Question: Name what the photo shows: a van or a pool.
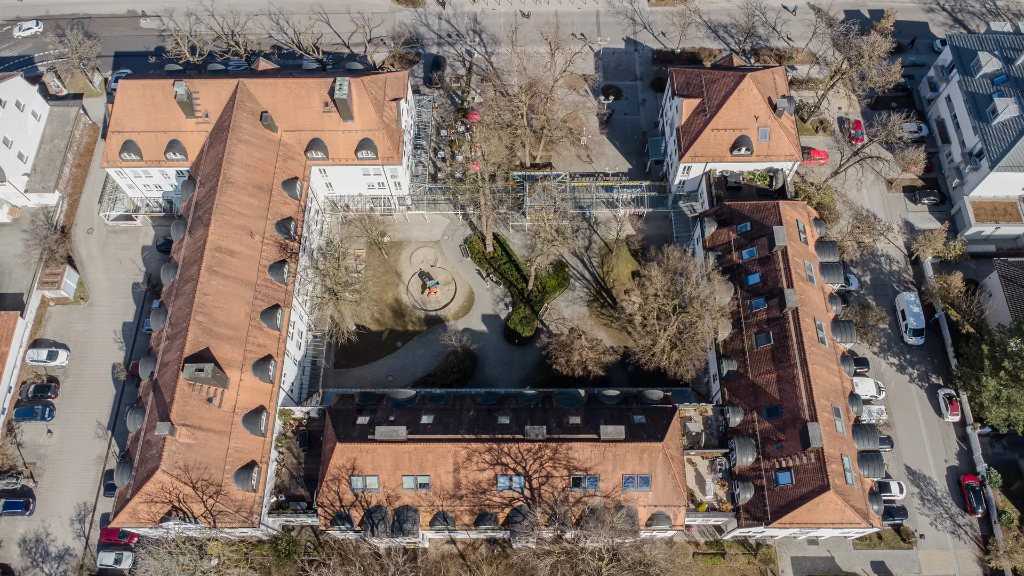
van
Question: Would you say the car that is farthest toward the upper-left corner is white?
Yes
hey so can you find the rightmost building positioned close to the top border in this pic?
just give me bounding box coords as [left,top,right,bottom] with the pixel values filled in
[911,15,1024,215]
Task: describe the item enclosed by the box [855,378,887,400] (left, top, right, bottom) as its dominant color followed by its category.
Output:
white vehicle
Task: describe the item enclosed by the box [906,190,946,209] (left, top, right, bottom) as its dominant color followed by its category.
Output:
black car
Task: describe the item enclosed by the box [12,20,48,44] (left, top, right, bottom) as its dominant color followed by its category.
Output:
white car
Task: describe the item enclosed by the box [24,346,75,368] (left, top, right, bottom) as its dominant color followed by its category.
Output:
white car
